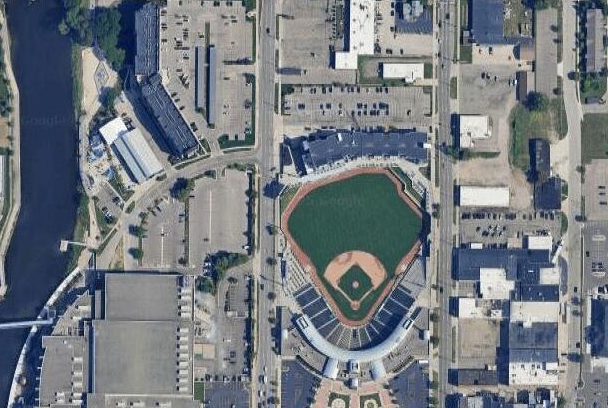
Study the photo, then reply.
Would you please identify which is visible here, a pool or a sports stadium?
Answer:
sports stadium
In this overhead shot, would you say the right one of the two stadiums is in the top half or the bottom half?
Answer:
bottom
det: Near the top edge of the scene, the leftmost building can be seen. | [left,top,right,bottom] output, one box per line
[136,2,199,154]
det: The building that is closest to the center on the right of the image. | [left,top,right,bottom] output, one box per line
[304,131,431,174]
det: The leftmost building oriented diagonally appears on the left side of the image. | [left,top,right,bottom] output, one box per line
[100,118,164,184]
